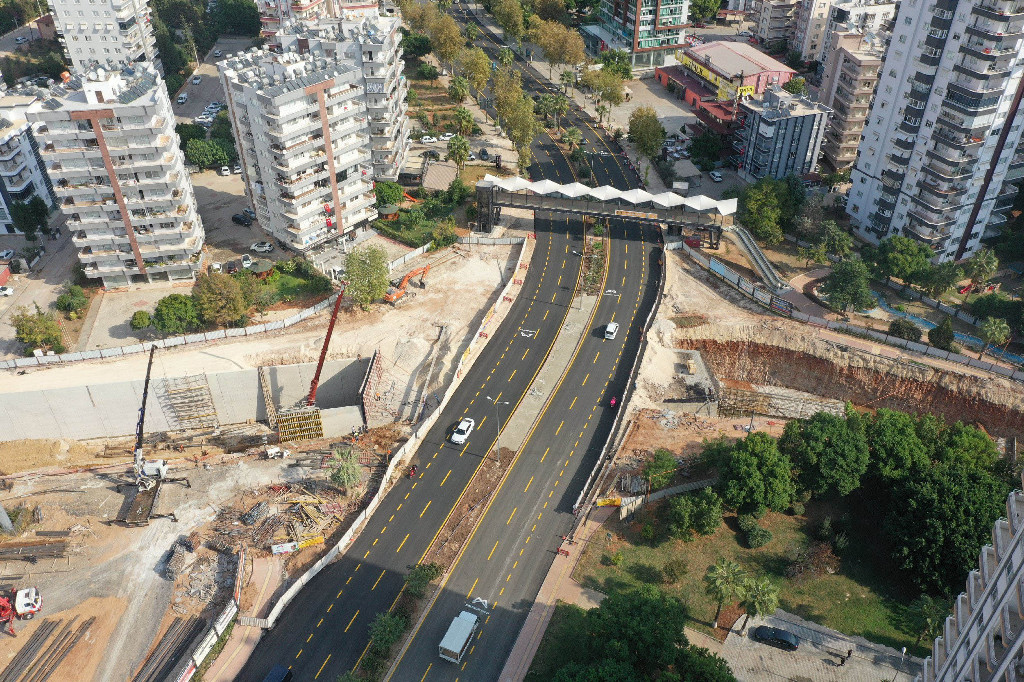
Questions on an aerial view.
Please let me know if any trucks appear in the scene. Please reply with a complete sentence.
Yes, the image includes a truck.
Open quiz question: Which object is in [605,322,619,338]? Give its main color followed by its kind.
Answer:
white car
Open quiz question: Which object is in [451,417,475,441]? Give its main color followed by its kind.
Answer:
white car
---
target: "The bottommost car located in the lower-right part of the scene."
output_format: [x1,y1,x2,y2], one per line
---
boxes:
[756,623,802,651]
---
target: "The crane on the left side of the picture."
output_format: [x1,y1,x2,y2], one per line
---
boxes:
[308,278,373,411]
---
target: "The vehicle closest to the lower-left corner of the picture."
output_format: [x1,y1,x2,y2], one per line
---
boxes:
[0,583,52,635]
